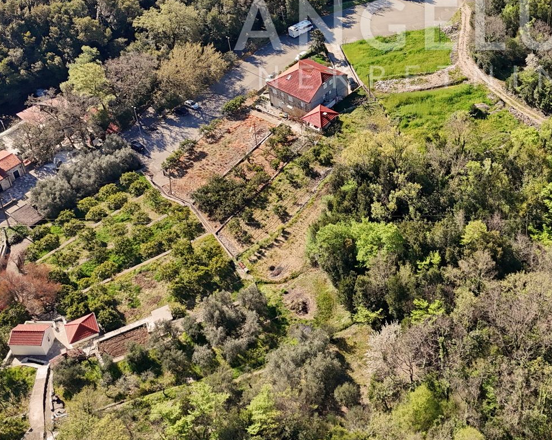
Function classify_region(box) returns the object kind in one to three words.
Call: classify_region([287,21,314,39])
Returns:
vehicle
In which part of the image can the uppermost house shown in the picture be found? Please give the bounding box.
[265,54,339,117]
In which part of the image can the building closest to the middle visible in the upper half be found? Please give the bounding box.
[299,108,340,140]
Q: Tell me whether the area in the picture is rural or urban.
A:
rural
